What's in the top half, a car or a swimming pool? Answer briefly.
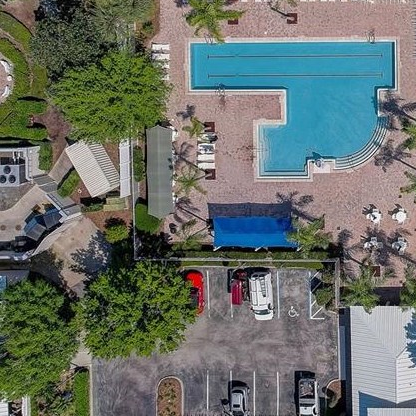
swimming pool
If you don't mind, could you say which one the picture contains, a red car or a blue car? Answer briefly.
red car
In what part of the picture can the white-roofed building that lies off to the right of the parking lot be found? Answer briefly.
bottom right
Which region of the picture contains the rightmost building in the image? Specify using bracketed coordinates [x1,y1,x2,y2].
[350,303,416,416]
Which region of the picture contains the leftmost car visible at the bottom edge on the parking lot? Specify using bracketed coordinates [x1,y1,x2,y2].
[229,388,251,416]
